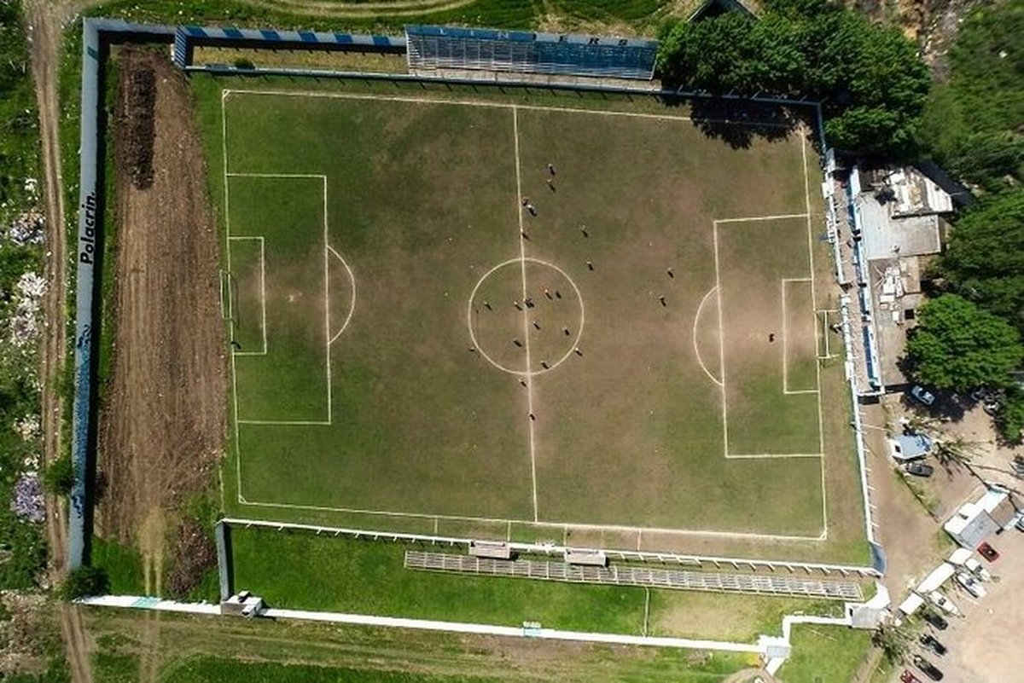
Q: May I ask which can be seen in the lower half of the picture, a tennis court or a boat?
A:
boat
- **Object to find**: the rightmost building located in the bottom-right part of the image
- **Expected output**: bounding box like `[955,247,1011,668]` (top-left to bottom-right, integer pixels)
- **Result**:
[945,487,1018,549]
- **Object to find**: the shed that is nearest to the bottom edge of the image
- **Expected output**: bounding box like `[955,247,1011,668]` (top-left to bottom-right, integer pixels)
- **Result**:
[759,637,789,658]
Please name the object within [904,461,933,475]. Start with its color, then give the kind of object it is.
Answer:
gray car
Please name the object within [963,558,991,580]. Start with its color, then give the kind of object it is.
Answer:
white vehicle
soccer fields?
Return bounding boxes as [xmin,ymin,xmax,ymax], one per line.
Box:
[192,70,870,567]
